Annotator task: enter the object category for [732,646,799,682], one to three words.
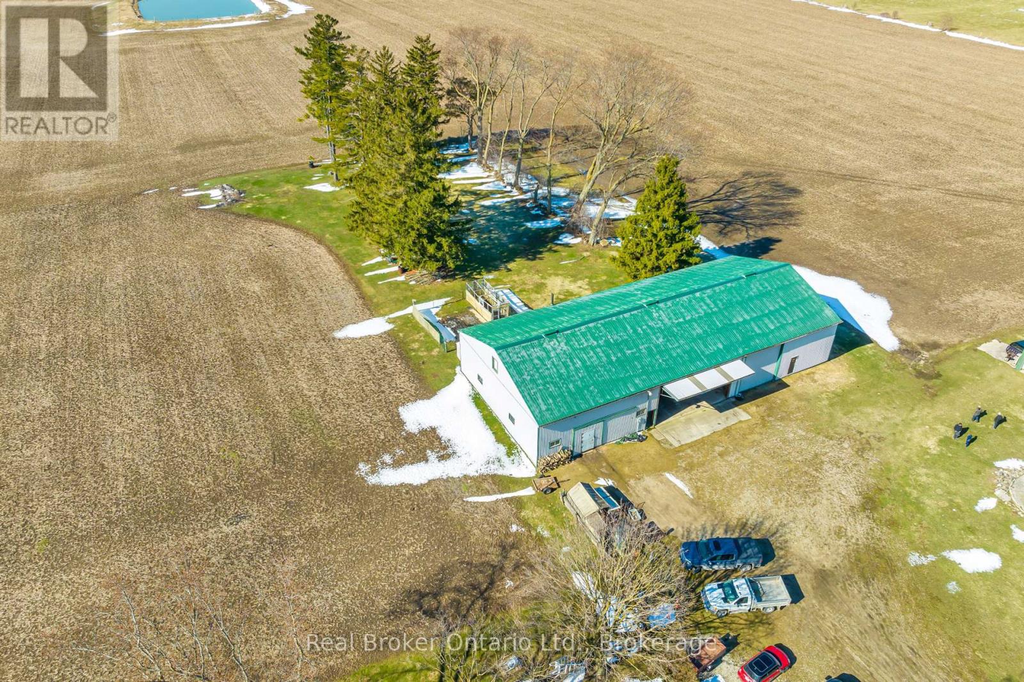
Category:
car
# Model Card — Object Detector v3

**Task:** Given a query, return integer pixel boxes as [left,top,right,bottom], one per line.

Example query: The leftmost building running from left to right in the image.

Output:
[457,254,845,470]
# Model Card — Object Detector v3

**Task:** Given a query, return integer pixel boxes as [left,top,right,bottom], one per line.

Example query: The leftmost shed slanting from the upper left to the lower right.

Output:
[558,481,628,560]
